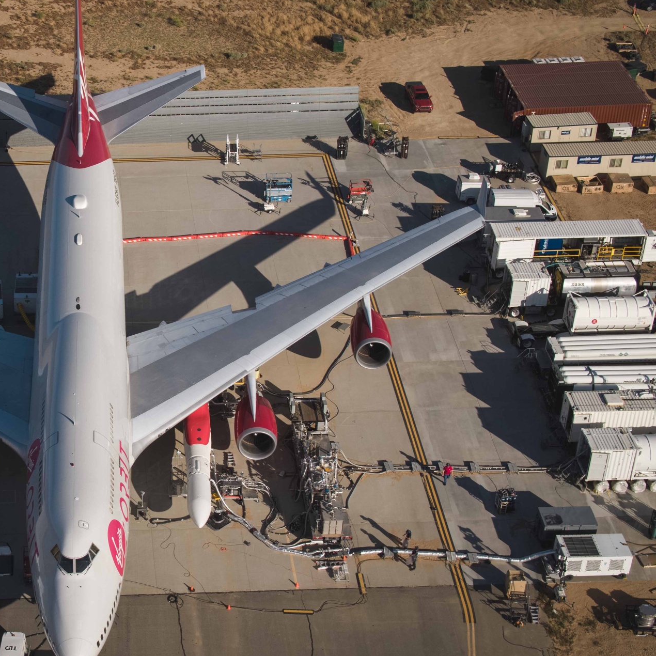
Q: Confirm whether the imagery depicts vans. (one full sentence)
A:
Yes, I can see a van in this picture.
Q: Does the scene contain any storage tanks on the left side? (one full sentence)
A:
No, no storage tank appears on the left side.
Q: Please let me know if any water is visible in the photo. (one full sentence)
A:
No, the picture contains no water.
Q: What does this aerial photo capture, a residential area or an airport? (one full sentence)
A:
This looks like an airport.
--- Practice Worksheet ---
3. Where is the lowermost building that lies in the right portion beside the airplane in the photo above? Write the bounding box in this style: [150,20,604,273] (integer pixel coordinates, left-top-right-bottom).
[538,138,656,180]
